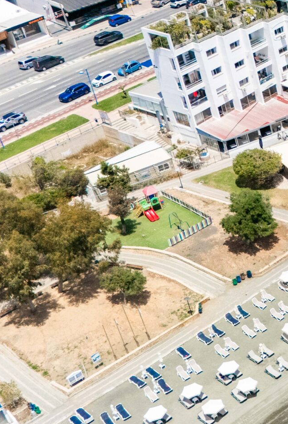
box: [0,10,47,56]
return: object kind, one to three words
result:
building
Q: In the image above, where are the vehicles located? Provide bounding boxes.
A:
[116,58,145,75]
[0,108,34,130]
[183,0,210,8]
[106,12,133,25]
[28,51,69,71]
[91,29,124,44]
[7,51,38,71]
[56,80,93,101]
[90,69,120,87]
[165,0,184,8]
